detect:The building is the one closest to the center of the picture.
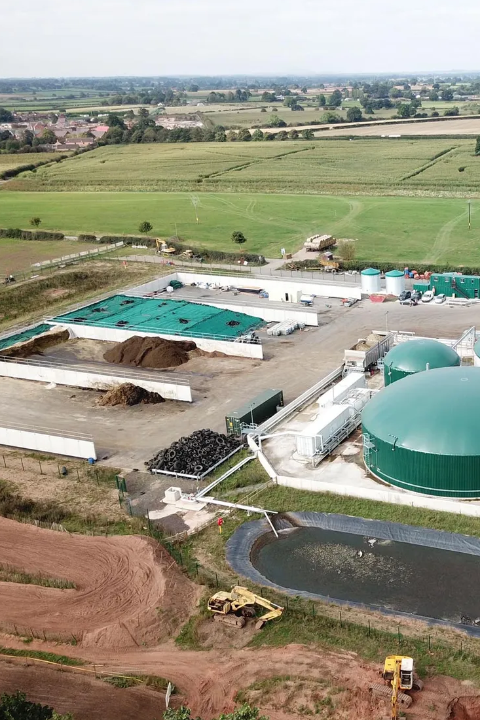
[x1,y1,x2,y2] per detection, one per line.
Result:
[270,282,304,303]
